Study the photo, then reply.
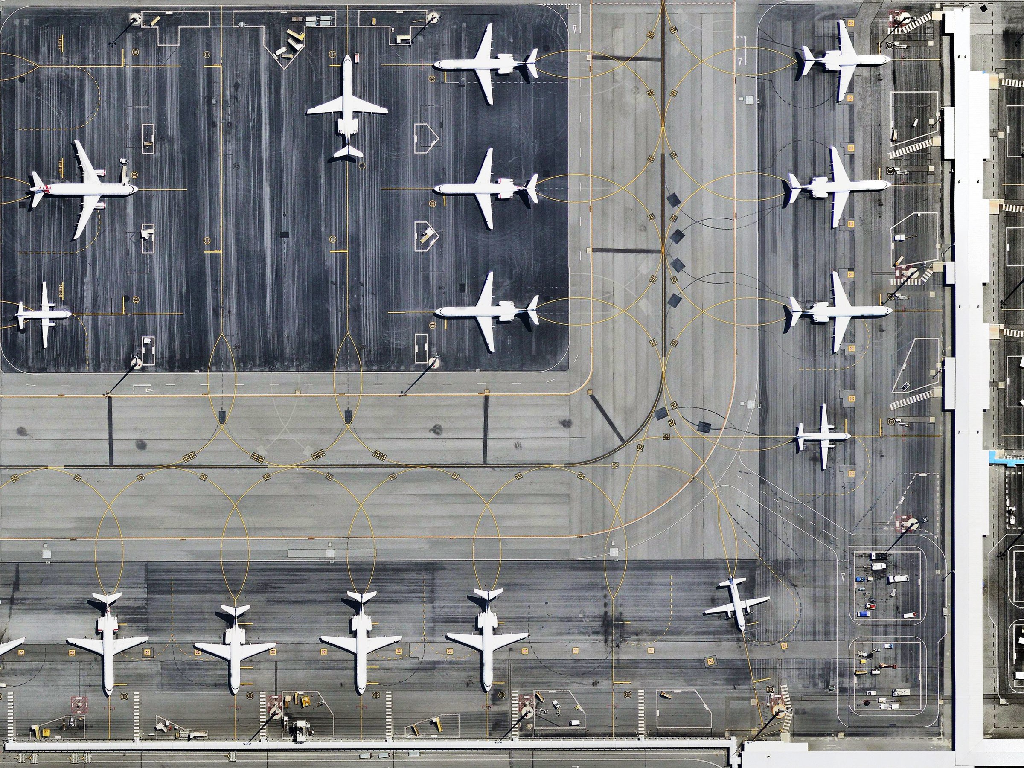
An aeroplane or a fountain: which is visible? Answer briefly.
aeroplane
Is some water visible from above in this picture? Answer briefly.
No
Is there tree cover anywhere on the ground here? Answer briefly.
No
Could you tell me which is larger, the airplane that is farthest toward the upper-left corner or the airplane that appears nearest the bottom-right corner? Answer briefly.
the airplane that is farthest toward the upper-left corner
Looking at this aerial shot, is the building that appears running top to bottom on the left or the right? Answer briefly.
right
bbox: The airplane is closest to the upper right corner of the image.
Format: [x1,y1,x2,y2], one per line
[802,19,891,101]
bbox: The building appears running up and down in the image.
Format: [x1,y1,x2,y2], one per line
[741,8,1024,768]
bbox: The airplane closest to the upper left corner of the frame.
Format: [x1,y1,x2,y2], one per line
[29,140,138,239]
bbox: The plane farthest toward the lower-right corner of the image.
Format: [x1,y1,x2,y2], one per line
[706,577,771,632]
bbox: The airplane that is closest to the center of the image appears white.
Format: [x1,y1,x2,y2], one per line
[435,271,540,353]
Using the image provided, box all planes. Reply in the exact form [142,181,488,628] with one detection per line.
[195,604,276,694]
[790,270,893,352]
[435,271,540,353]
[29,140,138,239]
[17,281,72,347]
[307,55,388,158]
[447,588,529,692]
[434,148,539,230]
[706,577,771,632]
[321,590,402,694]
[67,592,149,696]
[802,19,891,101]
[788,144,891,226]
[796,403,851,469]
[434,23,538,105]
